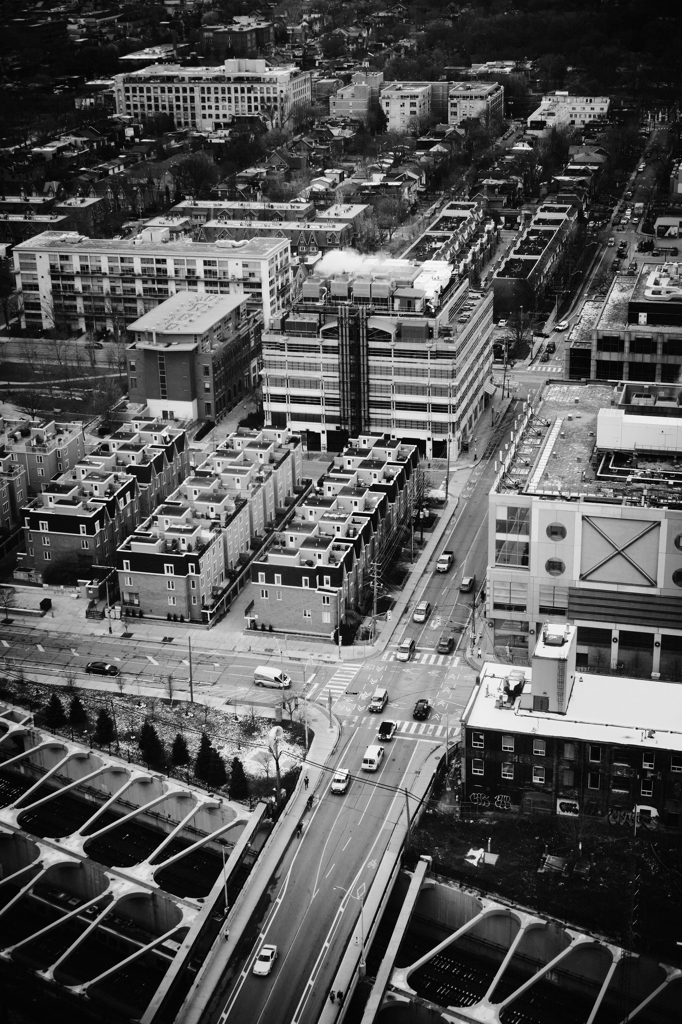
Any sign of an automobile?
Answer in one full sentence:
Yes, you can see an automobile in this photo.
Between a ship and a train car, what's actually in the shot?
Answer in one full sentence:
The image shows a train car.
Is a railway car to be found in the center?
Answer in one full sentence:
No, no railway car is visible in the center.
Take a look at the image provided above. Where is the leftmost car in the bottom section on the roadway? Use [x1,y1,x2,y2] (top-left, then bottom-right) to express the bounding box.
[86,661,121,676]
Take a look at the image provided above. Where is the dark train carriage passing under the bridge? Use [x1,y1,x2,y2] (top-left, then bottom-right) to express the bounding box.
[129,937,195,994]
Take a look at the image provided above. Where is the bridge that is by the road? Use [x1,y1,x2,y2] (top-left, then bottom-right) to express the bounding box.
[156,796,411,1024]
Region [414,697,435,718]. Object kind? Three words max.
car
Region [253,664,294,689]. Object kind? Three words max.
vehicle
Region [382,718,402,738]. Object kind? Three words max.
car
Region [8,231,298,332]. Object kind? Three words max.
building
